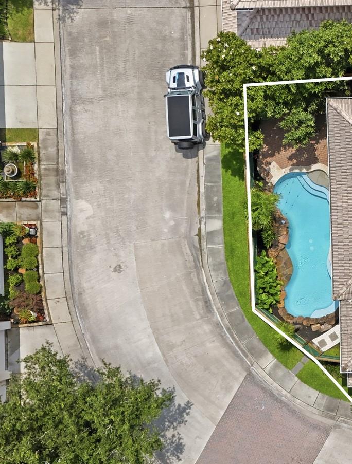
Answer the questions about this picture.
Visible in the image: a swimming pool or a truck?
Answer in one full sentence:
I can see a swimming pool in this picture.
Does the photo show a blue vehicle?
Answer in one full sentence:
No, the scene contains no blue vehicle.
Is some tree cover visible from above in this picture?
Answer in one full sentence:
Yes, some tree cover is visible.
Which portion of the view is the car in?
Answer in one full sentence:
The car sits in the top section of the image.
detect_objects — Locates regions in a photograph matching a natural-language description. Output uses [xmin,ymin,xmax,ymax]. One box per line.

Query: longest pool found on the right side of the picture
[269,160,340,318]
